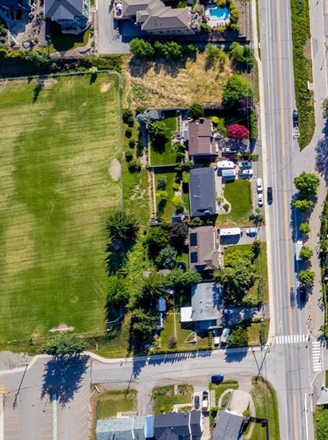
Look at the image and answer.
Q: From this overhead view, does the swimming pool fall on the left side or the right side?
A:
right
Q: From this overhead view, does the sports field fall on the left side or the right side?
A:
left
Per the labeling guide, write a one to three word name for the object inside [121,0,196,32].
house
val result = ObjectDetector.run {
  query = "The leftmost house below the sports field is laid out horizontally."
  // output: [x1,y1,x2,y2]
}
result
[94,417,146,440]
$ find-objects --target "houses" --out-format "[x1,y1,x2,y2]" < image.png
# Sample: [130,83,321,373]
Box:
[0,0,34,11]
[187,119,214,155]
[189,168,218,216]
[181,282,224,328]
[94,417,146,440]
[152,411,202,440]
[214,411,245,440]
[121,0,196,32]
[45,0,92,23]
[188,226,221,271]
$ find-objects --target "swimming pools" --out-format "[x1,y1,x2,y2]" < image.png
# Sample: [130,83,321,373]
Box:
[205,4,232,27]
